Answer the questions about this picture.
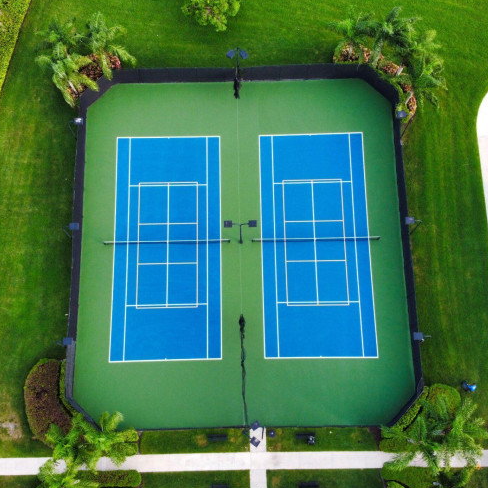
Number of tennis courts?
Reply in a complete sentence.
In total, there are 2 tennis courts in the scene.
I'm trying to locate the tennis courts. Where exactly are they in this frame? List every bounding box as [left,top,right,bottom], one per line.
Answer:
[72,81,244,430]
[239,77,416,428]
